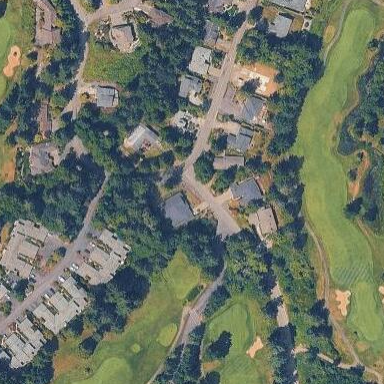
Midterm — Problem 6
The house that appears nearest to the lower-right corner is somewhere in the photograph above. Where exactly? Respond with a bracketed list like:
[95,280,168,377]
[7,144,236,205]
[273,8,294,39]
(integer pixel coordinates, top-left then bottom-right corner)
[250,204,278,235]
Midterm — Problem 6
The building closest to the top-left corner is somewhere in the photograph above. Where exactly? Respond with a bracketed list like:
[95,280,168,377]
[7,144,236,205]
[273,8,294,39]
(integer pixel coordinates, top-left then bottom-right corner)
[31,0,62,44]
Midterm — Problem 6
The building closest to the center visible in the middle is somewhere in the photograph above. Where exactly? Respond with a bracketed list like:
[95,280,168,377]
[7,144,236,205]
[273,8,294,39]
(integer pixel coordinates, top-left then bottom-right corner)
[162,192,196,227]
